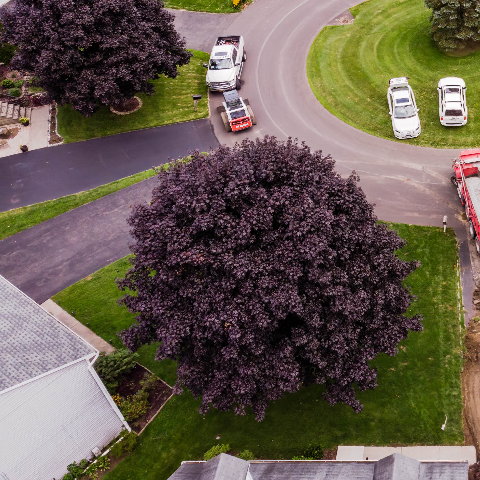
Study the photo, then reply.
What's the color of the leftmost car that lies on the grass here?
white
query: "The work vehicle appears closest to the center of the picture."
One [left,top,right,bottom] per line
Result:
[213,89,257,137]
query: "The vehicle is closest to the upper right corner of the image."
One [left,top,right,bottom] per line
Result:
[437,78,468,124]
